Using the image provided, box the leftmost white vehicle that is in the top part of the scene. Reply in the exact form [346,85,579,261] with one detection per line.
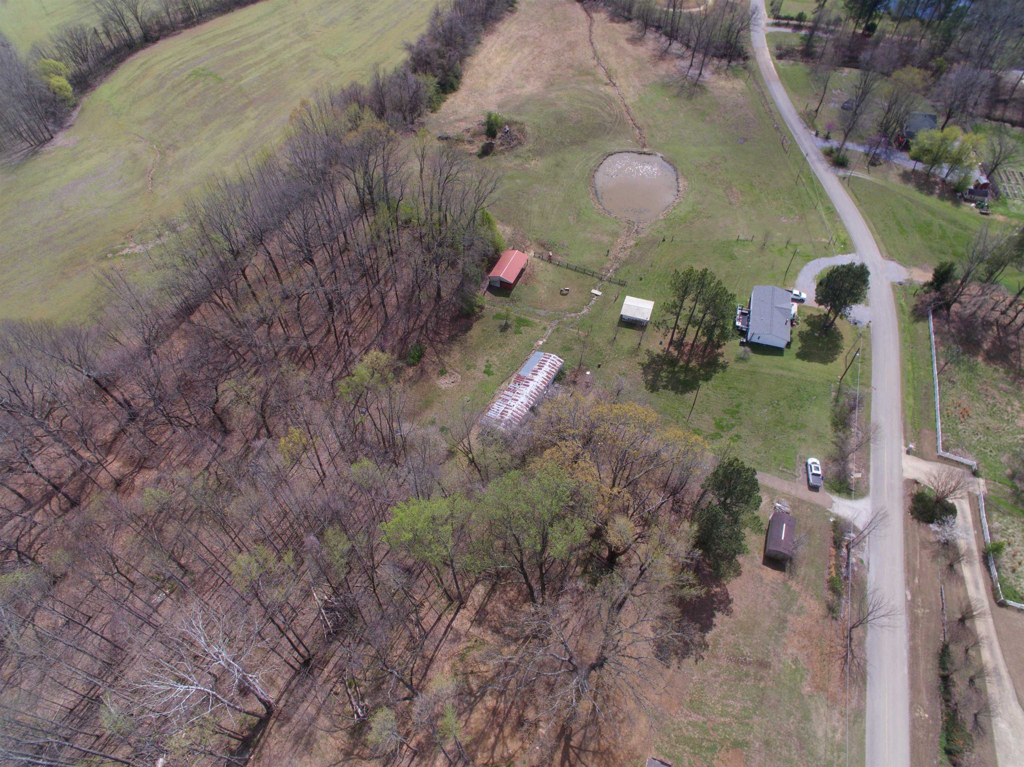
[791,290,809,302]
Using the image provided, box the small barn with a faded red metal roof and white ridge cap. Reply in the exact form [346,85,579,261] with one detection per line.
[489,249,529,292]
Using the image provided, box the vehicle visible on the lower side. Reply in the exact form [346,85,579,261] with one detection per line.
[804,457,823,486]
